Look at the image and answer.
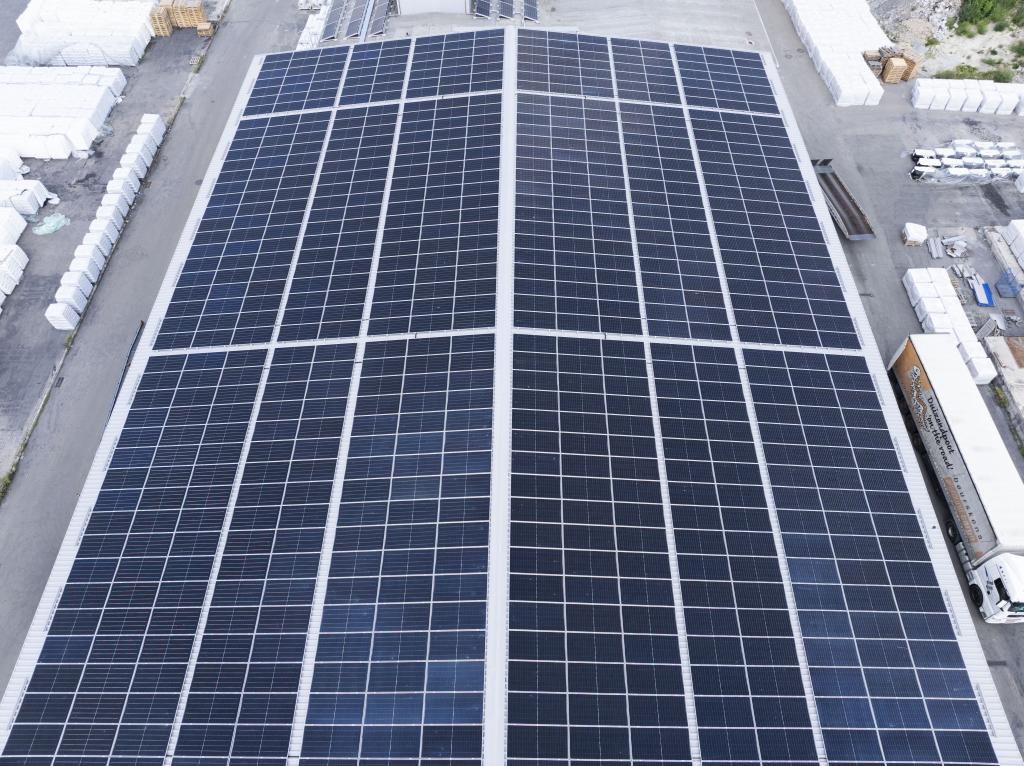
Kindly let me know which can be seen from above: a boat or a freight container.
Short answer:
freight container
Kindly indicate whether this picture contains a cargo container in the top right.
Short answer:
Yes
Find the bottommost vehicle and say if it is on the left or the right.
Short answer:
right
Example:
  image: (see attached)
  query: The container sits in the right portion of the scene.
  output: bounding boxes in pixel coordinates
[811,163,873,245]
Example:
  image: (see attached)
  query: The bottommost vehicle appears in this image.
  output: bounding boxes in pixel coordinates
[885,333,1024,623]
